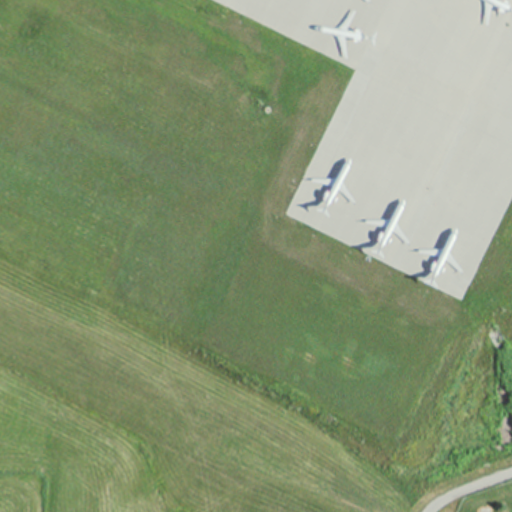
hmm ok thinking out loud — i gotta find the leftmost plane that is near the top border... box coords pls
[314,10,375,58]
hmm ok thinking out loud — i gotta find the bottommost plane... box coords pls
[418,230,463,288]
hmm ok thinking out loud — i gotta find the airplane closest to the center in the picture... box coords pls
[312,159,356,216]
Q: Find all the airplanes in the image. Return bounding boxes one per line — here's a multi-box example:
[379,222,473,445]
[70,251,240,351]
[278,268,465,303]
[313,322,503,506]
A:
[418,230,463,288]
[366,200,410,258]
[486,0,512,25]
[312,159,356,216]
[314,10,375,58]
